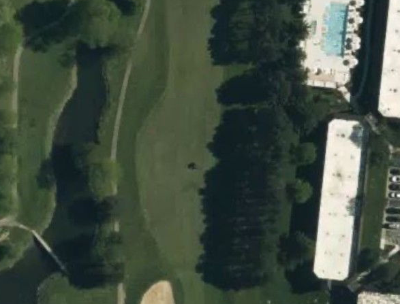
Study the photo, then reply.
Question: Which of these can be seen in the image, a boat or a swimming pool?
swimming pool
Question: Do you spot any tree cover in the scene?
Yes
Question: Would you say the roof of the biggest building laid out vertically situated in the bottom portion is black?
No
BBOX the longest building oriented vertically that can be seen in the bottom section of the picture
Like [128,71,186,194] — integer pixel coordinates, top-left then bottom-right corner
[307,113,366,285]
